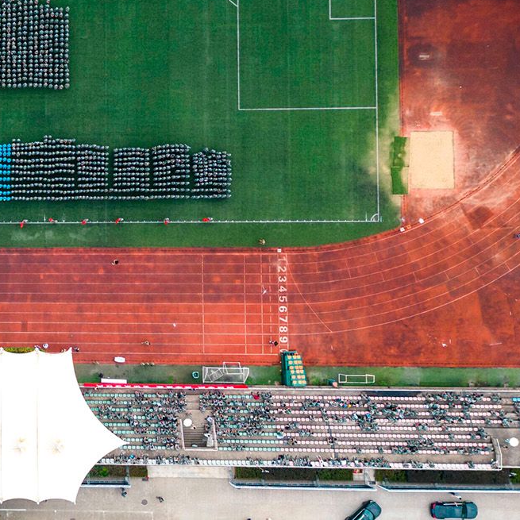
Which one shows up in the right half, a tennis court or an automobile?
automobile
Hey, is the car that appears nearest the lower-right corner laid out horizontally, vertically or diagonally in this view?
horizontally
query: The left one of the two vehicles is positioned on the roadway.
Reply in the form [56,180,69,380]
[339,496,377,520]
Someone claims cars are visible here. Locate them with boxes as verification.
[339,496,377,520]
[427,498,473,519]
